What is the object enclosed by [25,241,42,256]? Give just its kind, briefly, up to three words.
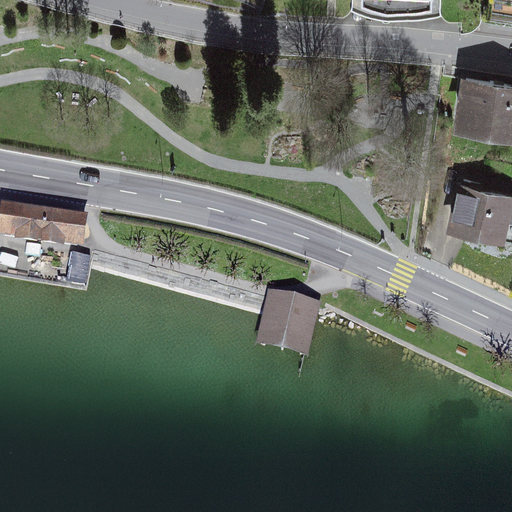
umbrella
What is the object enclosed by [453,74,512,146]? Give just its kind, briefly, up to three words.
house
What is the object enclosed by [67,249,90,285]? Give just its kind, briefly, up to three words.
shed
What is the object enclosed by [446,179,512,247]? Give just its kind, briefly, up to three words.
house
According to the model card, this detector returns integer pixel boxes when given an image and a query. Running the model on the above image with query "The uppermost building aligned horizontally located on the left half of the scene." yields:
[0,198,88,247]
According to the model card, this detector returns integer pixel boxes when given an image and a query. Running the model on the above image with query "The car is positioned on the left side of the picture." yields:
[78,169,100,181]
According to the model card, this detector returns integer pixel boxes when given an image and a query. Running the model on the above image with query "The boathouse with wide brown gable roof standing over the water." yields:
[255,288,321,357]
